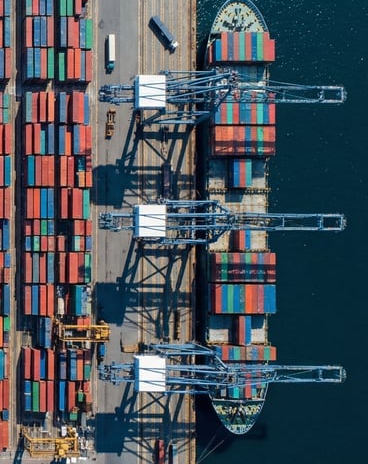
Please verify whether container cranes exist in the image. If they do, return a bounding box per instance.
[52,318,111,343]
[23,425,80,455]
[98,333,345,395]
[98,196,345,249]
[98,73,345,133]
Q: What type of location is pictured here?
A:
port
